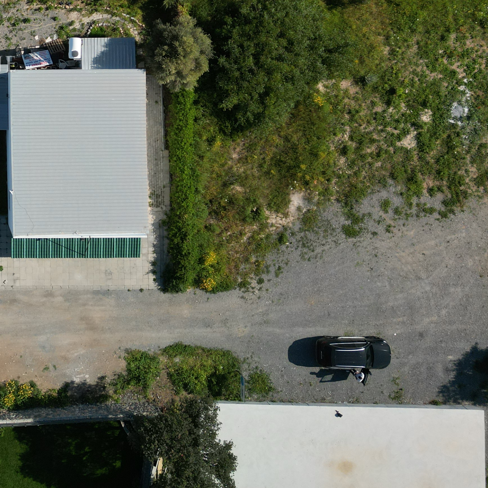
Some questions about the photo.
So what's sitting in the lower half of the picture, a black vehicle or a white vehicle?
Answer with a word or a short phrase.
black vehicle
